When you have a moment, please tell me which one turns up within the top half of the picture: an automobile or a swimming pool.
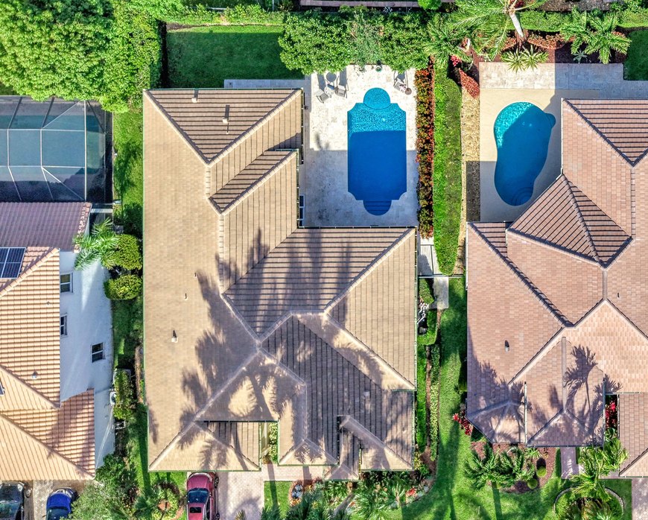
swimming pool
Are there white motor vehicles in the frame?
No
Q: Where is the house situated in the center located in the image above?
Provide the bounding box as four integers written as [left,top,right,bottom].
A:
[141,87,419,482]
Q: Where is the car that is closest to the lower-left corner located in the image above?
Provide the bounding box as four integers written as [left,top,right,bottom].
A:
[0,484,35,520]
